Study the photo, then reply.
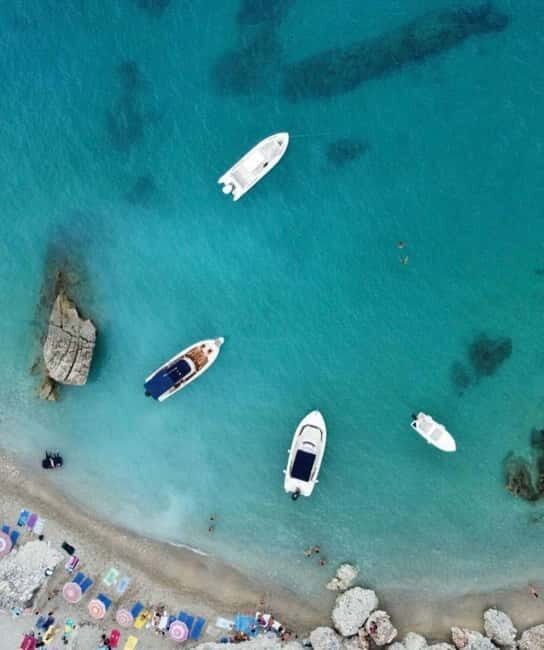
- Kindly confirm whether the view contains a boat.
Yes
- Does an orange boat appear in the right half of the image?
No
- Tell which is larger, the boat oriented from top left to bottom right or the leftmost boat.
the leftmost boat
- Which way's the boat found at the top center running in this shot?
on a diagonal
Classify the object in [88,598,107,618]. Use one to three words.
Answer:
umbrella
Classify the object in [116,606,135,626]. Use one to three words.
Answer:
umbrella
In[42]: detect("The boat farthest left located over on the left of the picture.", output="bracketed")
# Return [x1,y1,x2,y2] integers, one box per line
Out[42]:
[142,339,223,403]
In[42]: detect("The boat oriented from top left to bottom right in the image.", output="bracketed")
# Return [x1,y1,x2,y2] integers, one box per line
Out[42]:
[411,412,458,453]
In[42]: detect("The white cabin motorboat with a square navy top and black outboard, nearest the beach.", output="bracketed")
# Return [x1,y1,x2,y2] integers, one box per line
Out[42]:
[285,409,326,500]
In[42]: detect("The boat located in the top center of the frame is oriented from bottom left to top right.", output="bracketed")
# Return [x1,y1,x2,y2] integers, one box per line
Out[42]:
[218,130,303,200]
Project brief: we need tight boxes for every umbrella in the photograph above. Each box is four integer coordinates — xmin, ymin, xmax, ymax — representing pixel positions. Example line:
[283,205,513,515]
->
[62,581,83,602]
[169,618,190,640]
[88,598,107,618]
[0,532,13,555]
[116,606,135,626]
